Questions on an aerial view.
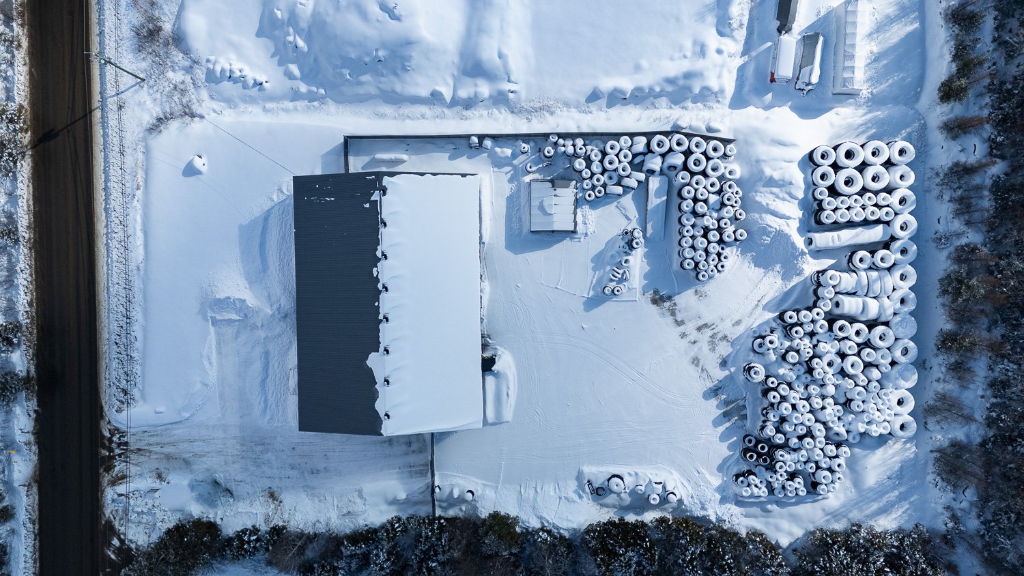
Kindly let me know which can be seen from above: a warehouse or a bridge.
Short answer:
warehouse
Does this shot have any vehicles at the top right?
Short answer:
Yes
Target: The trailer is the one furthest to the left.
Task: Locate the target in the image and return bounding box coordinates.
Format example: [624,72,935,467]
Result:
[645,171,668,241]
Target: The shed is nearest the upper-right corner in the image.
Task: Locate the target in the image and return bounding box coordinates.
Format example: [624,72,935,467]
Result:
[531,179,577,232]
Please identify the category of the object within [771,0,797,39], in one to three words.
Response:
trailer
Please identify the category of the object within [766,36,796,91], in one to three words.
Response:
truck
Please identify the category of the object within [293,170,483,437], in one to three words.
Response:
warehouse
